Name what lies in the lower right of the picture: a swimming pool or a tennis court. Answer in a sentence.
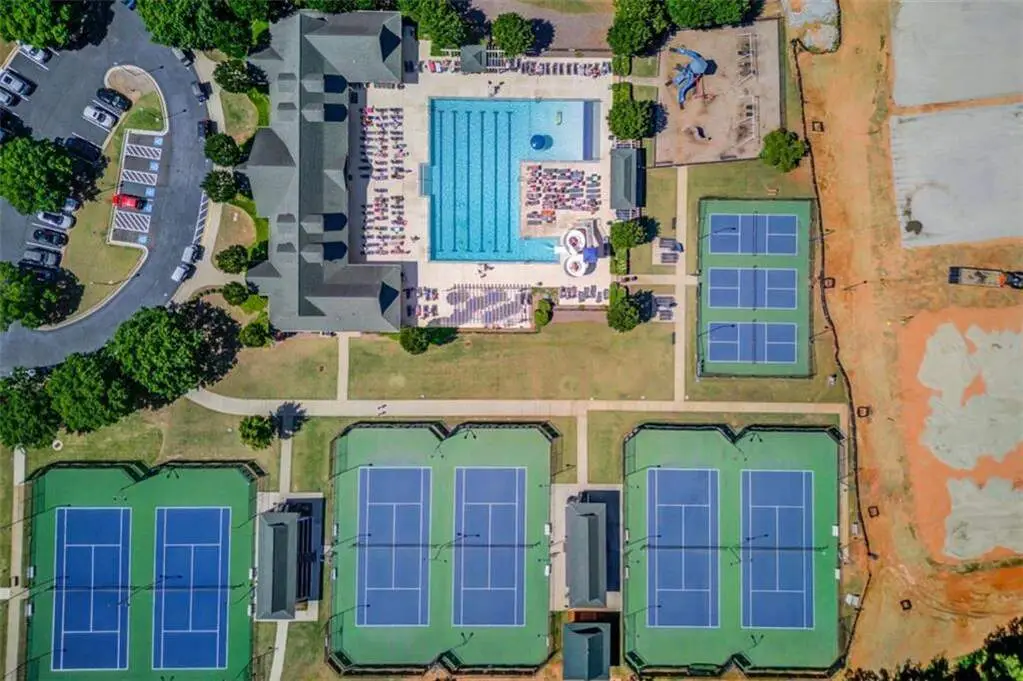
Visible in the lower right of the picture is a tennis court.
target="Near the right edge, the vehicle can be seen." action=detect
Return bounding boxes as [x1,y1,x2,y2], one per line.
[949,265,1023,290]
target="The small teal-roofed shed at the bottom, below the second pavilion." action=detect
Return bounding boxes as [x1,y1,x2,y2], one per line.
[564,616,610,681]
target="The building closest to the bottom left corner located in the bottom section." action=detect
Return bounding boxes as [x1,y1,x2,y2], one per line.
[258,510,317,618]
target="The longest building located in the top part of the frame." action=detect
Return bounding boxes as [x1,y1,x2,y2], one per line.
[235,10,403,333]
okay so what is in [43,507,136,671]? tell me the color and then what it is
blue tennis court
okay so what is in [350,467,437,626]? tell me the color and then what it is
blue tennis court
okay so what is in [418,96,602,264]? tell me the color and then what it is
blue swimming pool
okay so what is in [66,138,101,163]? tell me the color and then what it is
black car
